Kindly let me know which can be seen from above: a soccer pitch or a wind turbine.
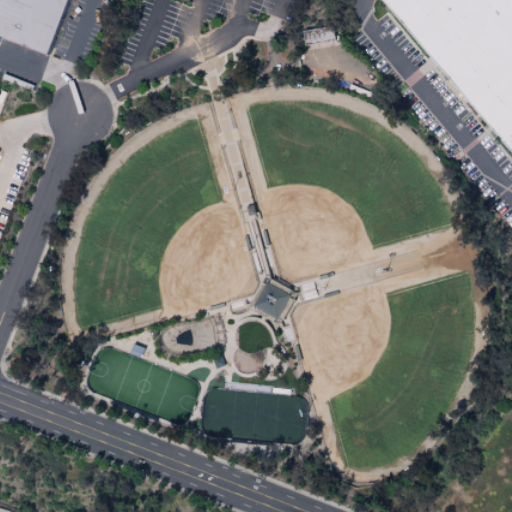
soccer pitch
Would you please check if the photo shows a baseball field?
Yes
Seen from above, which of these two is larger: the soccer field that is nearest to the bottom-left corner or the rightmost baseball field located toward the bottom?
the baseball field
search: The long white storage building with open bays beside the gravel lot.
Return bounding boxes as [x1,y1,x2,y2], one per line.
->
[304,27,338,44]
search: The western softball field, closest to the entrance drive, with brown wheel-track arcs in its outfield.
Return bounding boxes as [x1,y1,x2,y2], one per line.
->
[74,119,259,328]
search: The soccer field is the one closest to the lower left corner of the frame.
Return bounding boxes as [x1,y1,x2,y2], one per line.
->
[87,346,199,426]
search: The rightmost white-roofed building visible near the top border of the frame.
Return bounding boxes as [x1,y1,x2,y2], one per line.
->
[382,0,512,150]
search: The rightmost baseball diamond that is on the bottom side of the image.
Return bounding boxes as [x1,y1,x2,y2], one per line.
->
[298,271,475,470]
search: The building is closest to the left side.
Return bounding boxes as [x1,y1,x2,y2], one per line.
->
[0,0,73,56]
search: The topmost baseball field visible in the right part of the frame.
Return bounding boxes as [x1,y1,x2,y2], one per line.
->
[247,100,452,281]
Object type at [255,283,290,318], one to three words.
building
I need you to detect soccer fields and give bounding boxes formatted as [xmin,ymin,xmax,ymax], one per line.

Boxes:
[87,346,199,426]
[202,389,308,444]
